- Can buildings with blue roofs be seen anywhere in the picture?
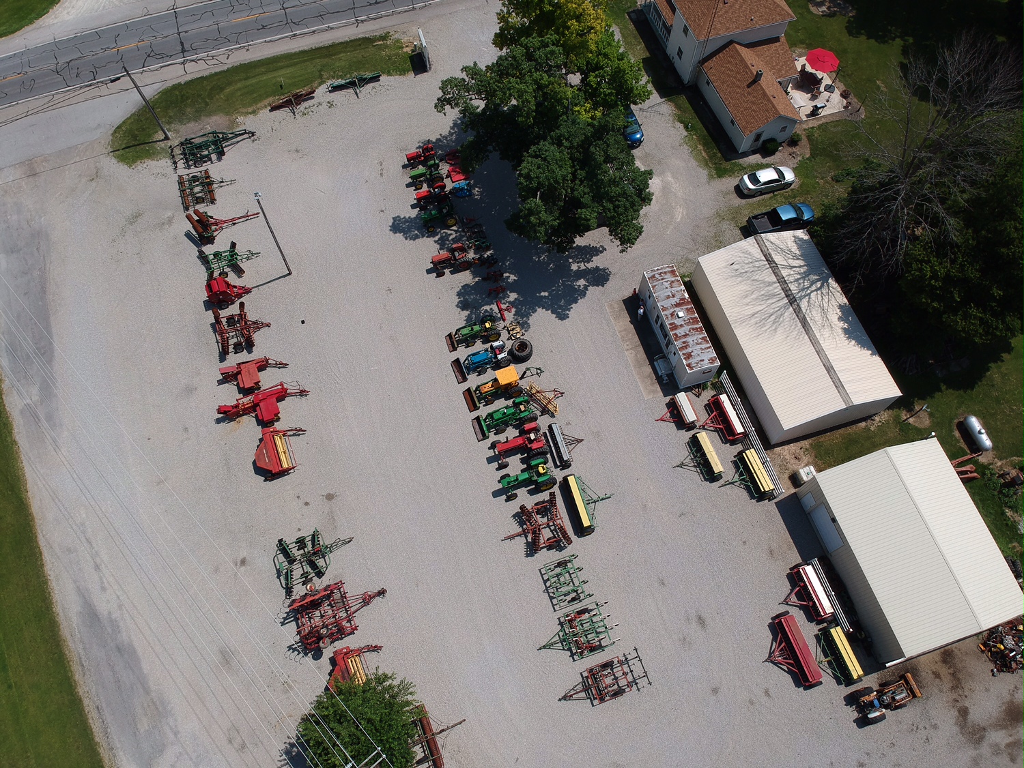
No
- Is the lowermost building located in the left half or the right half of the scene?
right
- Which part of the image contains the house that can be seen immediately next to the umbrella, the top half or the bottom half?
top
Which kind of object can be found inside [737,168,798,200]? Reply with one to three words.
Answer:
car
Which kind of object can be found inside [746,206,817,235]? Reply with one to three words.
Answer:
truck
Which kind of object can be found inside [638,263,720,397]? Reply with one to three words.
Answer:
trailer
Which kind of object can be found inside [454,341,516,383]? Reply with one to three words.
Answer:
work vehicle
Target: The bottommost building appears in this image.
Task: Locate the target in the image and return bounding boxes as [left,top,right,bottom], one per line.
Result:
[798,430,1024,662]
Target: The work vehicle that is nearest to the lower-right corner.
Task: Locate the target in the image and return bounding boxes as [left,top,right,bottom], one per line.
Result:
[850,670,924,726]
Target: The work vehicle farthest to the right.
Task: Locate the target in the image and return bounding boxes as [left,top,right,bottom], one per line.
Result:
[998,463,1024,496]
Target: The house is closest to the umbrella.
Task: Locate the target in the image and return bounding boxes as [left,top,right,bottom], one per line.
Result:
[618,0,804,155]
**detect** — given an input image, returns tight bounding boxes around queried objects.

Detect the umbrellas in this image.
[803,49,841,92]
